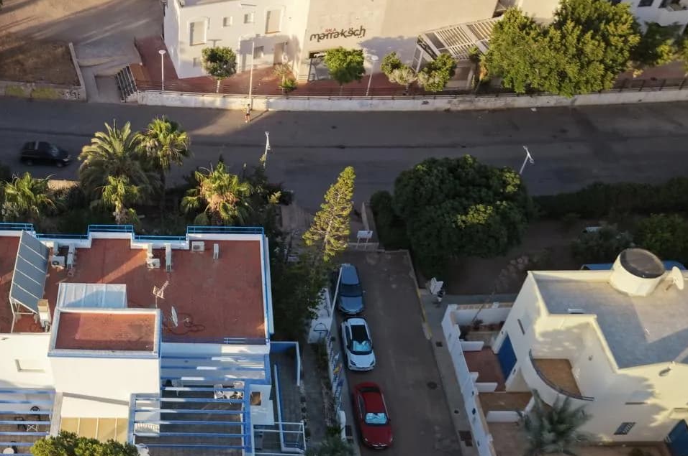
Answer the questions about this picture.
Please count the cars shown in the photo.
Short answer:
4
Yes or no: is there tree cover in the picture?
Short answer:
Yes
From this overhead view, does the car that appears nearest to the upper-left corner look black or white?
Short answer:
black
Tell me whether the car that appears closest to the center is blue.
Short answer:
Yes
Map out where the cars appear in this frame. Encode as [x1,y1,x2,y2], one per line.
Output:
[356,381,404,453]
[344,313,387,374]
[13,138,76,172]
[336,259,374,313]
